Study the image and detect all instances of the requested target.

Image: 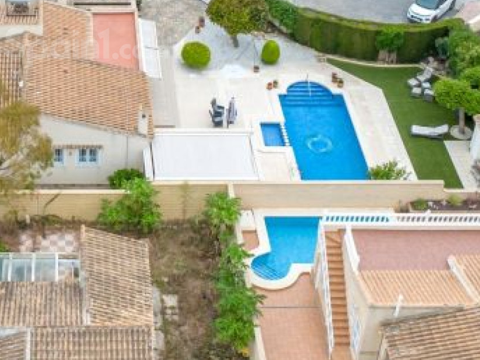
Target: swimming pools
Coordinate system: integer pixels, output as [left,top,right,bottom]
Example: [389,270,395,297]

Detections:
[256,119,291,147]
[272,76,379,179]
[238,202,337,316]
